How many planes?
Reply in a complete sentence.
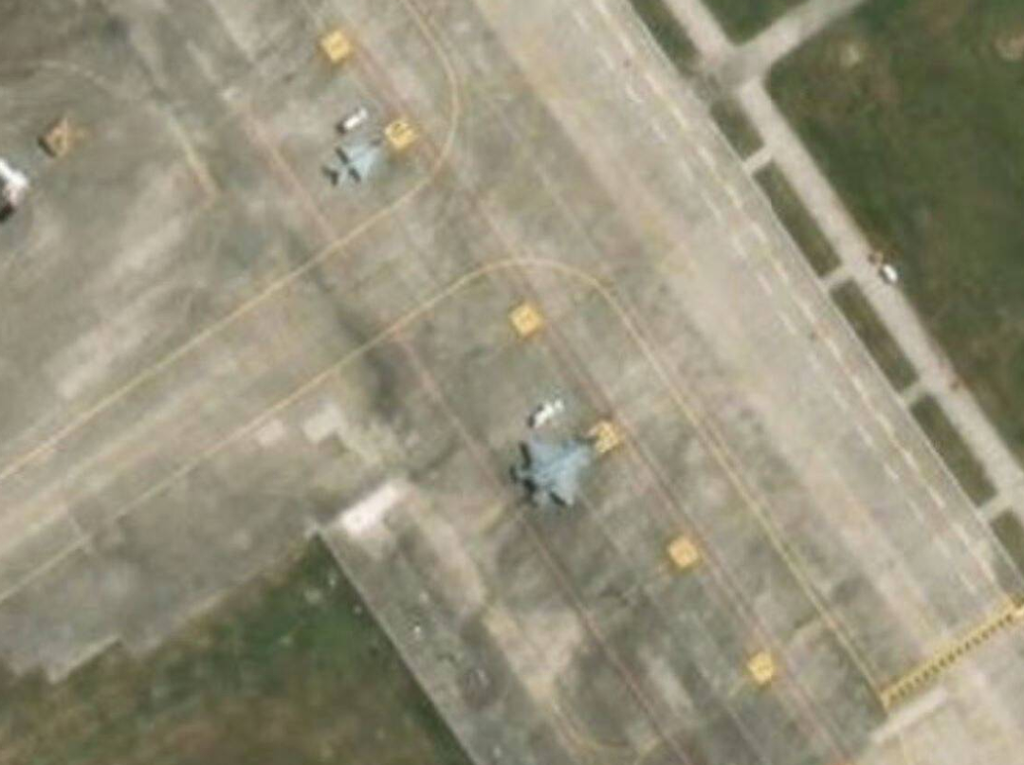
Looking from above, you can make out 2 planes.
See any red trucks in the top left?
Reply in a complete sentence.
No, I can find no red truck in the top left.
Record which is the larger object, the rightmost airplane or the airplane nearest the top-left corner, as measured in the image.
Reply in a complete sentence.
It is the rightmost airplane that is larger, not the airplane nearest the top-left corner.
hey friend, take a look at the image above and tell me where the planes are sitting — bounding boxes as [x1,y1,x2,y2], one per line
[518,447,597,512]
[327,142,386,191]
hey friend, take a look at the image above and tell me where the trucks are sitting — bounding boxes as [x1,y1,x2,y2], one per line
[0,158,30,207]
[533,401,560,422]
[341,109,368,130]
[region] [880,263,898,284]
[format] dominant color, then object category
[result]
white car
